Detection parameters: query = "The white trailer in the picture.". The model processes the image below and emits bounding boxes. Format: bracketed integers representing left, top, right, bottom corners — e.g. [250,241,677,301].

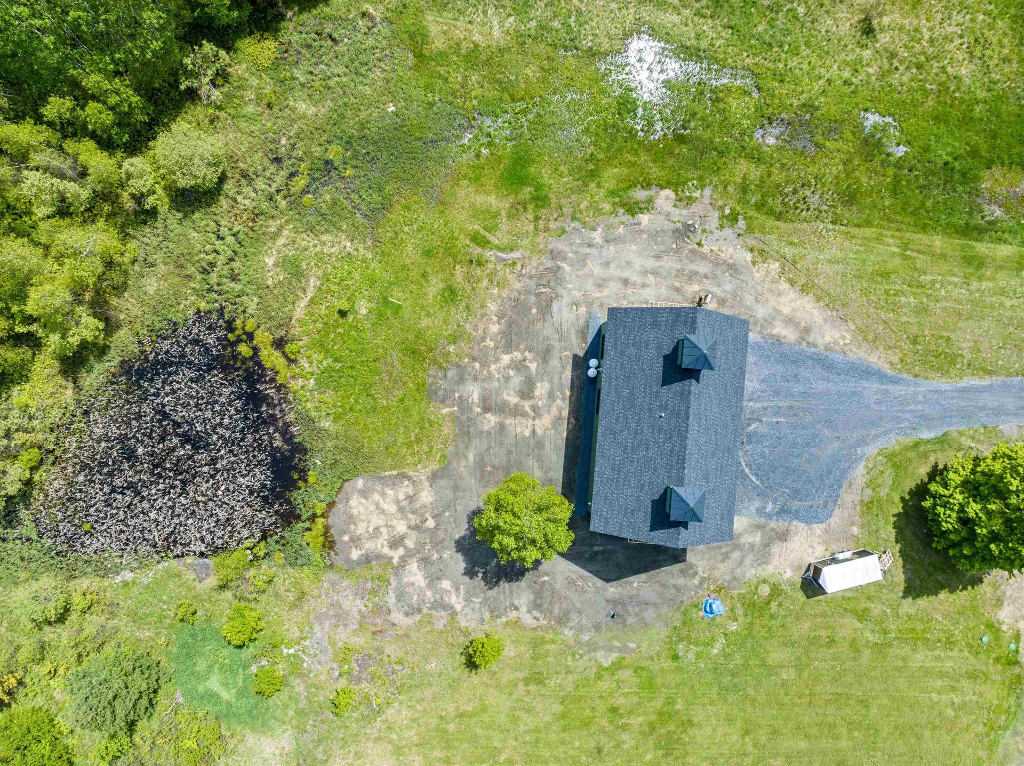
[797,548,882,594]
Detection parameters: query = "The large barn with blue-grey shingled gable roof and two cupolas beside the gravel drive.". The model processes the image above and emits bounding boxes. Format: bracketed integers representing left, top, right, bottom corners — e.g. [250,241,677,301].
[586,299,751,553]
